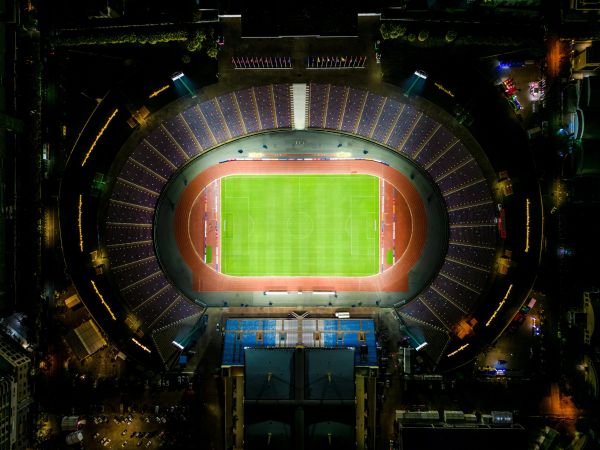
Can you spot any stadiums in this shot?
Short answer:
Yes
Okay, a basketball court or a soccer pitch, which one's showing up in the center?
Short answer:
soccer pitch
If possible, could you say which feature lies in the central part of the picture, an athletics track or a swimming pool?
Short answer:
athletics track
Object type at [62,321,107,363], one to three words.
building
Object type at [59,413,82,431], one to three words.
hangar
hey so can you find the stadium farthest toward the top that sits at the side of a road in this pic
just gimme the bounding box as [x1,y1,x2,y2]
[99,76,502,370]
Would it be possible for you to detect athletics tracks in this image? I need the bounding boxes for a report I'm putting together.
[175,154,427,291]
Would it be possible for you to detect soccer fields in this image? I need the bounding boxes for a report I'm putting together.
[221,175,380,276]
